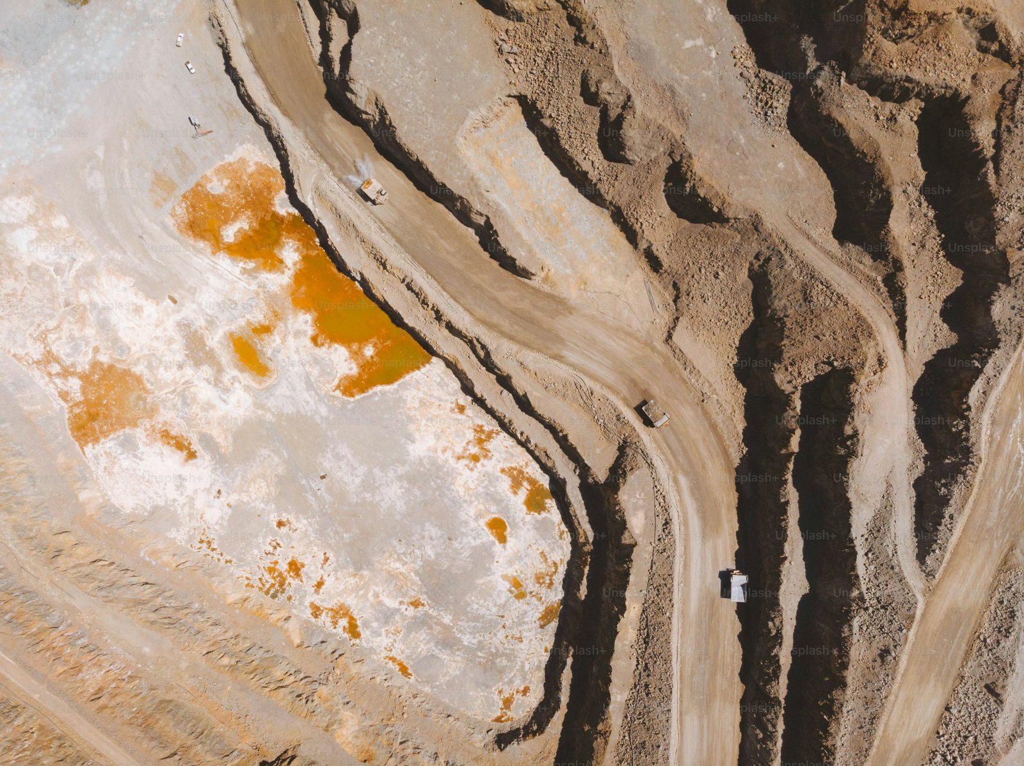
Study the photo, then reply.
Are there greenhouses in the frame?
No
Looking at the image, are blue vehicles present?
No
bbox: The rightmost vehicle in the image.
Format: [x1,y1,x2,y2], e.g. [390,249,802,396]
[726,570,745,600]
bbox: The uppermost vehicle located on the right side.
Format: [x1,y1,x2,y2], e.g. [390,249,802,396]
[643,399,670,429]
